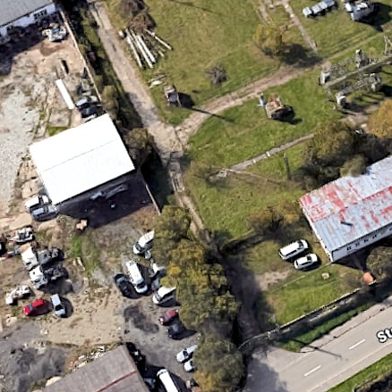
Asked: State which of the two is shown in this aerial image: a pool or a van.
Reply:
van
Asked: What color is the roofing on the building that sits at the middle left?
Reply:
white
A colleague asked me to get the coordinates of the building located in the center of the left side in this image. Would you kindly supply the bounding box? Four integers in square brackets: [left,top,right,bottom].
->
[29,115,136,219]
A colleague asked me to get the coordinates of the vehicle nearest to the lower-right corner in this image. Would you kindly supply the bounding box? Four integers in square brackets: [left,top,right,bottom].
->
[295,256,319,271]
